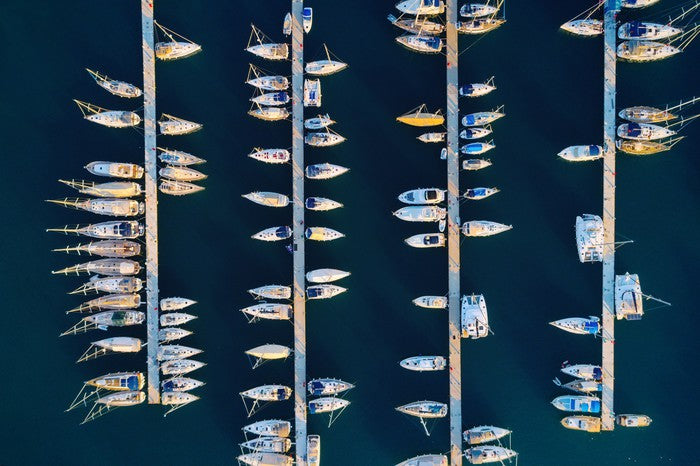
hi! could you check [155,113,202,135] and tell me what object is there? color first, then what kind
white boat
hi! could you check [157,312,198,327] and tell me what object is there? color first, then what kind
white boat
